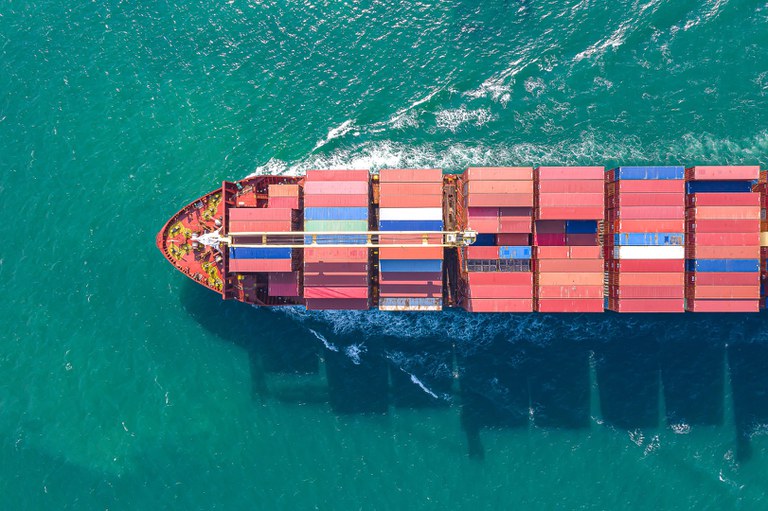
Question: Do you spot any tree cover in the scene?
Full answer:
No, there's no tree cover in this view.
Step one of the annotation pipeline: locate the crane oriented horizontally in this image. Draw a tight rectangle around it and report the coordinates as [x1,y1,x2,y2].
[226,224,480,249]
